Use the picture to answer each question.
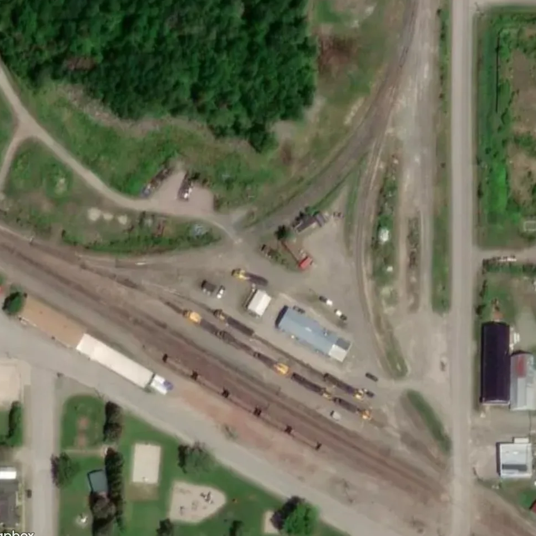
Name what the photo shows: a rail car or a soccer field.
rail car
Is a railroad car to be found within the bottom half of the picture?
Yes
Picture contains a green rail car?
No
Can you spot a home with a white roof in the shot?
Yes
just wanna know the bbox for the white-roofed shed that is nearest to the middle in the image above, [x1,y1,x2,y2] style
[248,289,272,316]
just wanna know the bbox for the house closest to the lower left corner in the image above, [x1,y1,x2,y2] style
[0,481,19,526]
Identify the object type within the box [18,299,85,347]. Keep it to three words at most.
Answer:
house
